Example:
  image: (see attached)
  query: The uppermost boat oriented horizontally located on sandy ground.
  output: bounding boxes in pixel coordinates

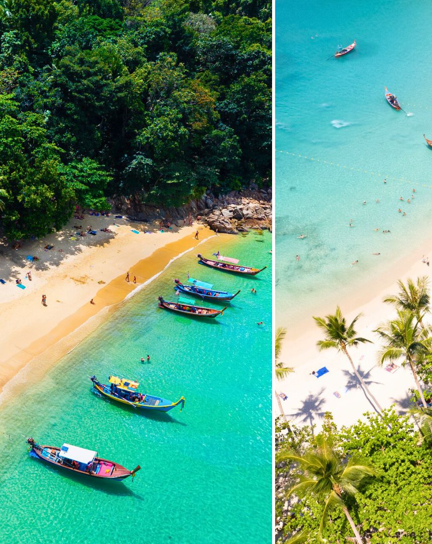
[191,250,270,275]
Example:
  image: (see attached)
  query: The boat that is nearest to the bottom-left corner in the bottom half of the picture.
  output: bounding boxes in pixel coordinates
[24,437,143,481]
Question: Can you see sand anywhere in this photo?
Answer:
Yes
